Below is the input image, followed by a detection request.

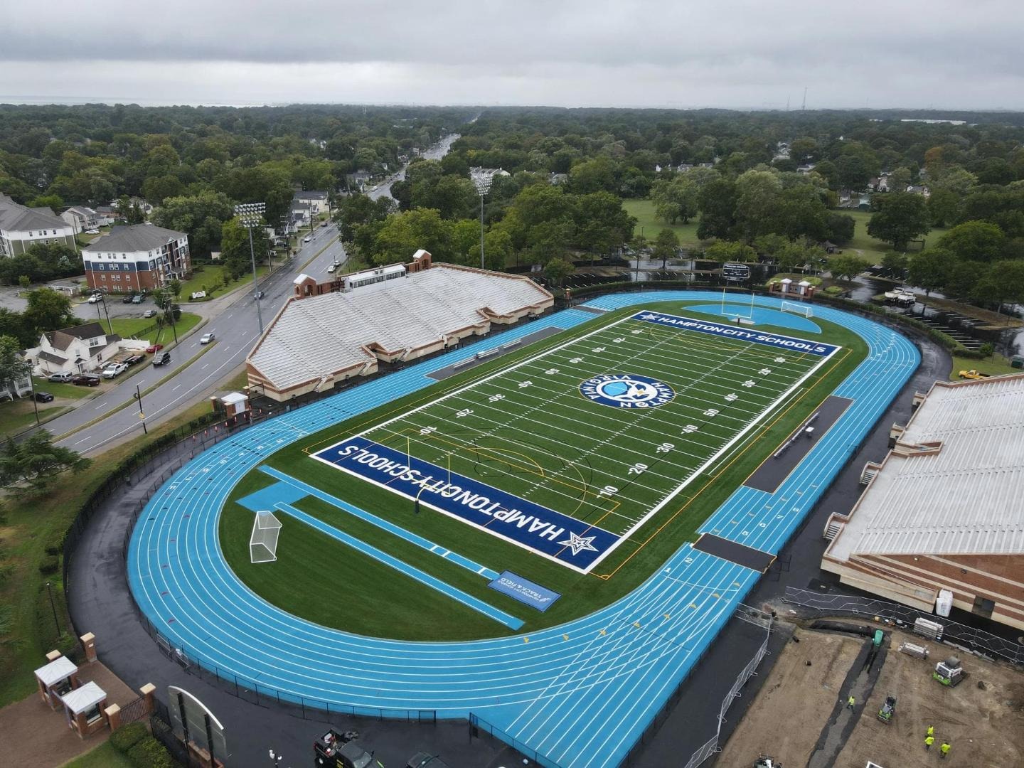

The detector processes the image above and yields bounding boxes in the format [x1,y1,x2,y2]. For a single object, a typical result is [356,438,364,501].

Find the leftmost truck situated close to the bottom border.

[312,726,380,768]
